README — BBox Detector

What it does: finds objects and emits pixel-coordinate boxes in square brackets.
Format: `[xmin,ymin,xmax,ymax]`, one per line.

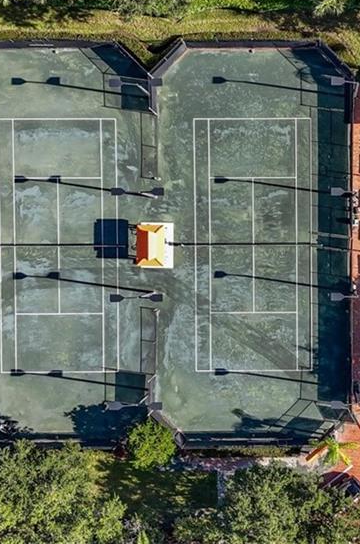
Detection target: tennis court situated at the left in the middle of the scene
[0,48,157,436]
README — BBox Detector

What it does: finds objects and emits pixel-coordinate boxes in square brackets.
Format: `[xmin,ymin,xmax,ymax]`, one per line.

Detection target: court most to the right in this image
[158,47,351,437]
